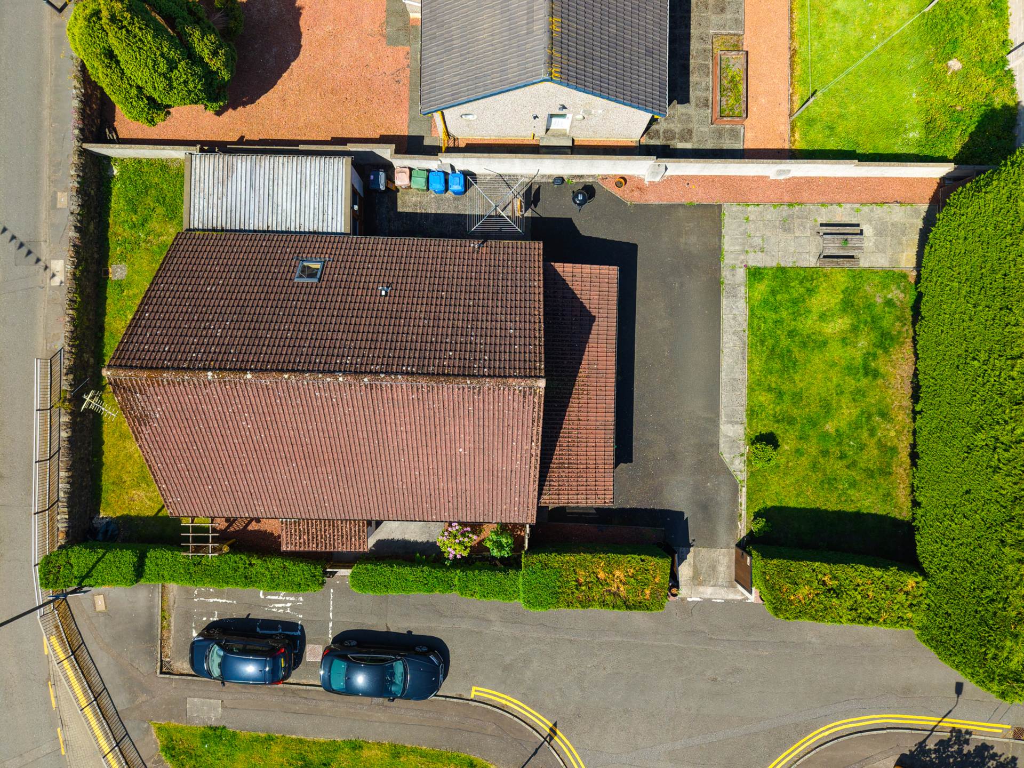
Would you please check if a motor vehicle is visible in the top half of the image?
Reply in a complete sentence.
No, there's no motor vehicle to be seen in the top half of the image.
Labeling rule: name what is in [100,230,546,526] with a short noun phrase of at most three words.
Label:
house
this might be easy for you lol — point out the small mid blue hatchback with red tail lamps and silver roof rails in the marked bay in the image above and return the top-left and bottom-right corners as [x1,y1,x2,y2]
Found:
[188,629,294,691]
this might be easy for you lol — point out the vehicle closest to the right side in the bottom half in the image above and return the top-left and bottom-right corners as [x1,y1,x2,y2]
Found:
[318,641,443,709]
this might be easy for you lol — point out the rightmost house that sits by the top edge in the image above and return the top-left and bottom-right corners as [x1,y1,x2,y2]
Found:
[418,0,671,152]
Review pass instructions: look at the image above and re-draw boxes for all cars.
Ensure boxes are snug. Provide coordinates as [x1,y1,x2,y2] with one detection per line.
[188,629,294,691]
[318,641,443,709]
